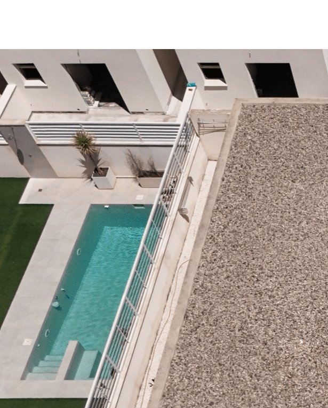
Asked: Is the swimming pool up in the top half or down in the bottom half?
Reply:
bottom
